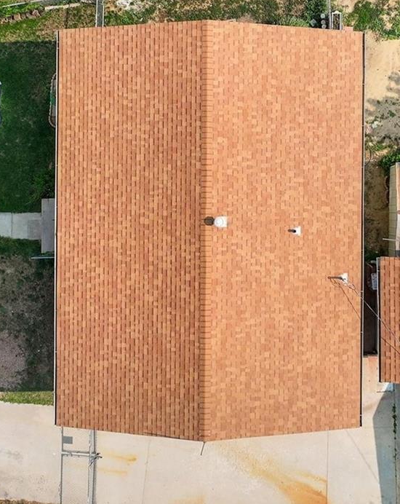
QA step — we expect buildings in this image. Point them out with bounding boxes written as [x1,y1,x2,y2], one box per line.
[53,19,366,439]
[374,257,400,383]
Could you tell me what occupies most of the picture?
buildings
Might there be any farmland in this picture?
No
